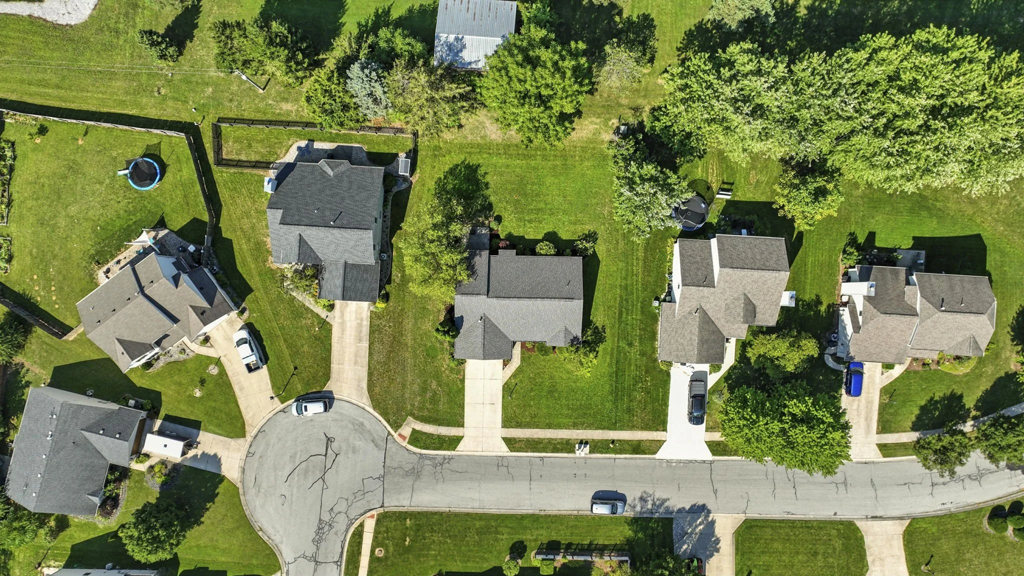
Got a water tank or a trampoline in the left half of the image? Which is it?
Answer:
trampoline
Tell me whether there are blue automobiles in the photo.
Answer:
Yes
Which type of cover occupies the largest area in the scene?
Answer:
grass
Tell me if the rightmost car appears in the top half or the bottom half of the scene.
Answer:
bottom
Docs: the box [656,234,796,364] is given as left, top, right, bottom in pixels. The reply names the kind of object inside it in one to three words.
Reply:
house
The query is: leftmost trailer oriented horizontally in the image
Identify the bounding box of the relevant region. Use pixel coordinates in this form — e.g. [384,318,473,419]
[143,430,202,457]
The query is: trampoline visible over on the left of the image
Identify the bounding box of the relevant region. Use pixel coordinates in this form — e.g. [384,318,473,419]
[122,154,165,191]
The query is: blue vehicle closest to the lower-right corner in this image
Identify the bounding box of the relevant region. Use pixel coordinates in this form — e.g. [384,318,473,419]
[843,361,864,397]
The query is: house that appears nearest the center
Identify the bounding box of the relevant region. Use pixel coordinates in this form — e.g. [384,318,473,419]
[453,249,583,360]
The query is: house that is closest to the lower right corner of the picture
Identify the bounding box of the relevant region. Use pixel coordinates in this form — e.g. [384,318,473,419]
[835,265,996,364]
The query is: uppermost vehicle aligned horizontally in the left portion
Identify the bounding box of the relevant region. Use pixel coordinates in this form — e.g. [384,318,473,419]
[290,398,332,418]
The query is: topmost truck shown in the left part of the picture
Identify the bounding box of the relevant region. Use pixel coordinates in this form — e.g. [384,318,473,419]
[234,326,264,375]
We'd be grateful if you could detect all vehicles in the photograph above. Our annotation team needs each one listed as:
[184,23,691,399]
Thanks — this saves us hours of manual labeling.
[688,556,703,569]
[843,361,864,397]
[589,497,626,517]
[290,398,332,418]
[234,326,264,375]
[687,379,707,425]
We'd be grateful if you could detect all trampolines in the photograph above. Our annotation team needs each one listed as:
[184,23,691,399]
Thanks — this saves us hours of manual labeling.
[122,154,165,191]
[676,196,709,232]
